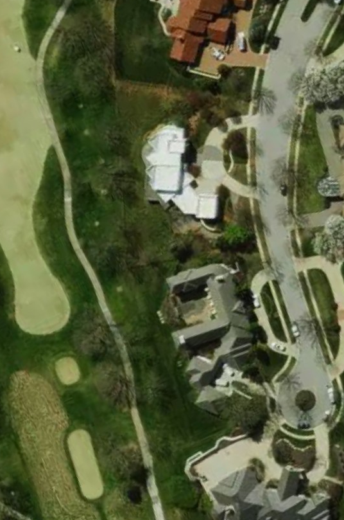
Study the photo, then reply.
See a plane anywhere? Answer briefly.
No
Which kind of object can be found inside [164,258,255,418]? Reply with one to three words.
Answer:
house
